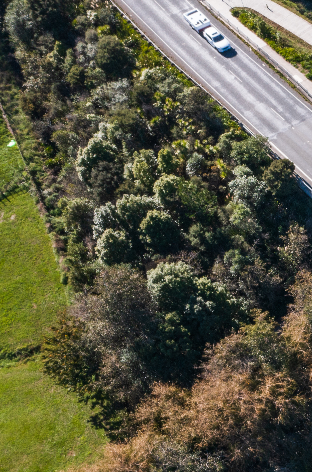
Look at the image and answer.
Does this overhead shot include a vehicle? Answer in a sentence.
Yes, there's a vehicle down there.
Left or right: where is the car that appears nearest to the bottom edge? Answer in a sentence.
It is on the right.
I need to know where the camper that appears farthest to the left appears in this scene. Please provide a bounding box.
[183,8,214,36]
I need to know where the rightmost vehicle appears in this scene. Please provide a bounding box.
[205,30,233,55]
